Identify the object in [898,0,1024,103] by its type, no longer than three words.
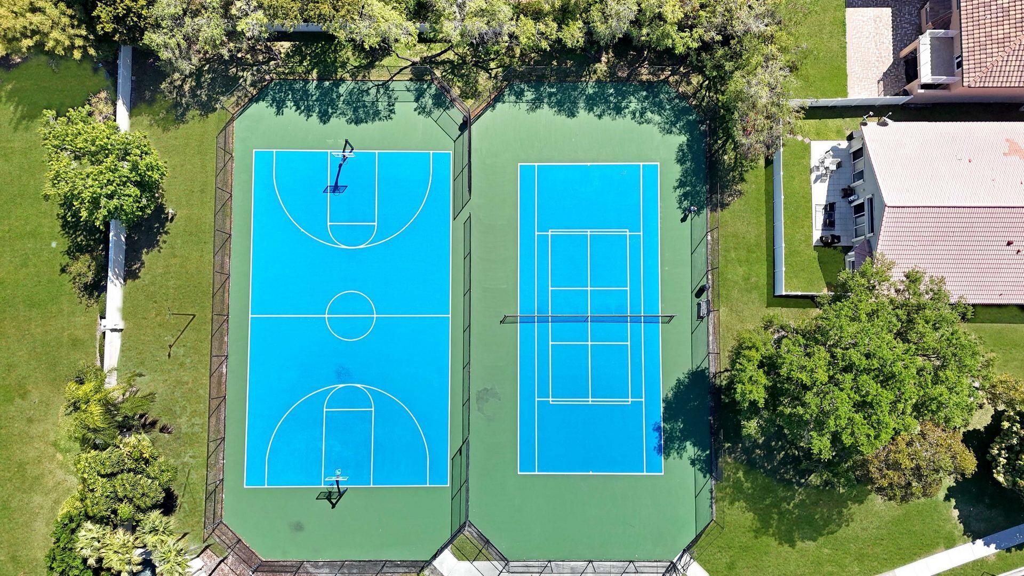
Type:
house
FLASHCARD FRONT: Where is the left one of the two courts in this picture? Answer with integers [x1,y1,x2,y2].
[224,81,469,560]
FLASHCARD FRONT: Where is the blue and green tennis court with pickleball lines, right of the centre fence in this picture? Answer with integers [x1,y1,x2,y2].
[469,83,713,560]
